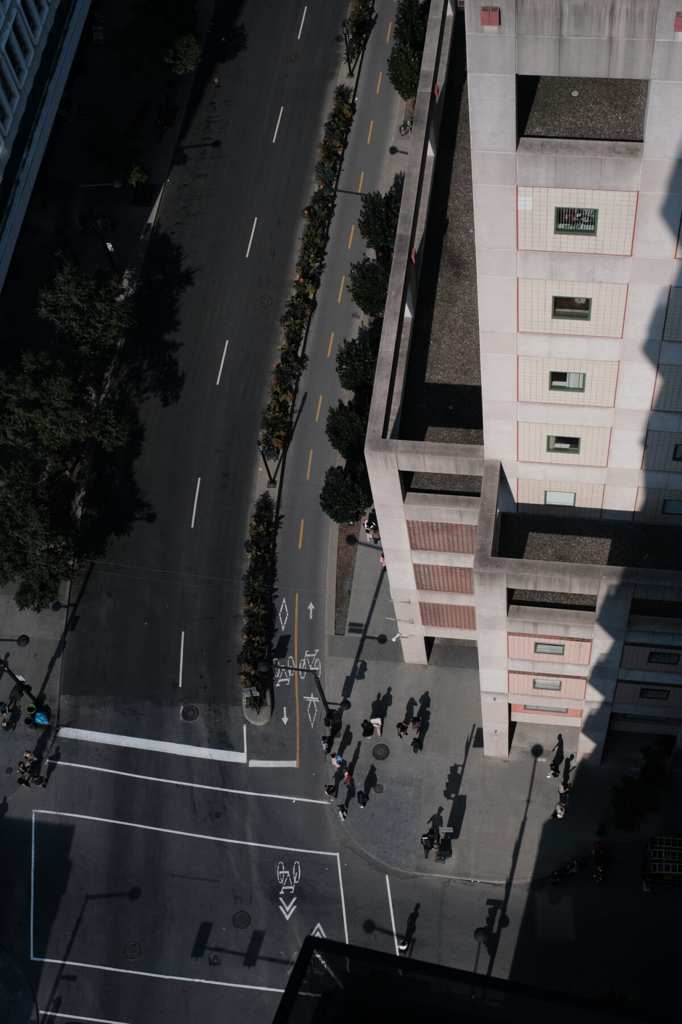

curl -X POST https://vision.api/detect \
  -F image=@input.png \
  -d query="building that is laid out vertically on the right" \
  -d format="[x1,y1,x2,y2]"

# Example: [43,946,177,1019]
[365,0,682,775]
